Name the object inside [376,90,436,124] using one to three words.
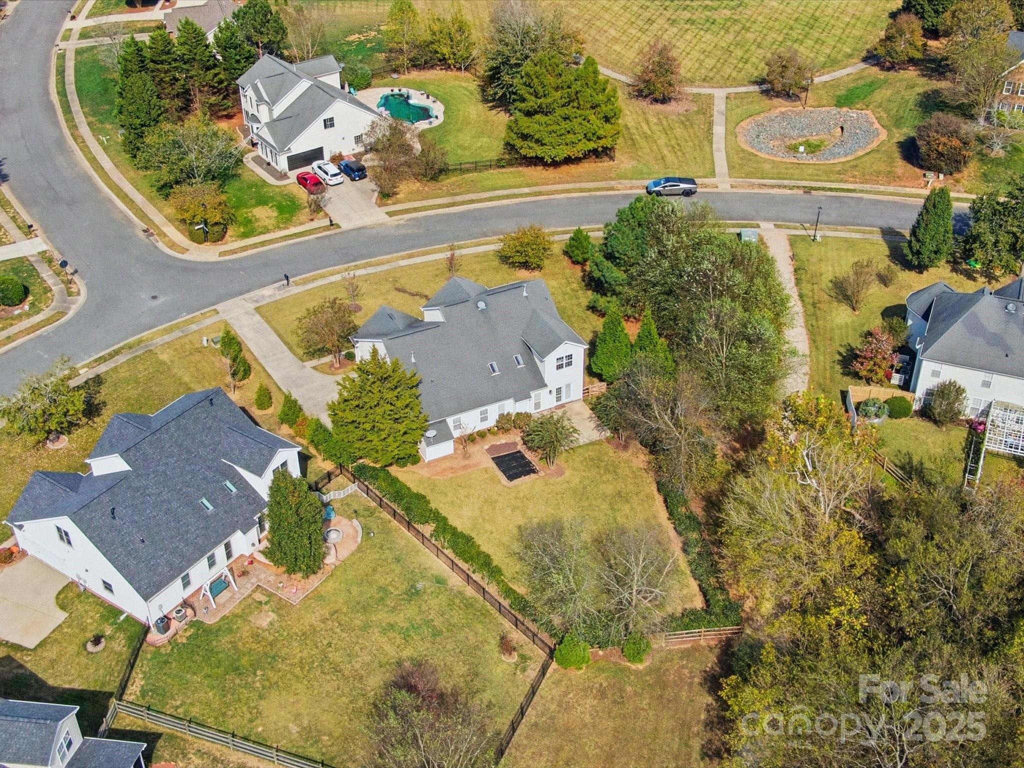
swimming pool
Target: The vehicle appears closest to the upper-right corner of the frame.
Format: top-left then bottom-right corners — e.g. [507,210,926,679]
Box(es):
[648,176,698,197]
